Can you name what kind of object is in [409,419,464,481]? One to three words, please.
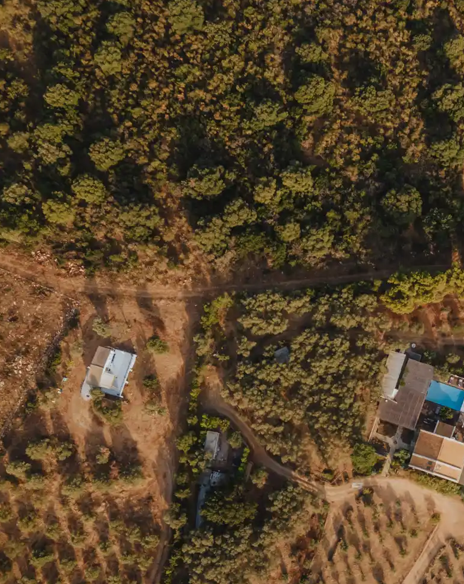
house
